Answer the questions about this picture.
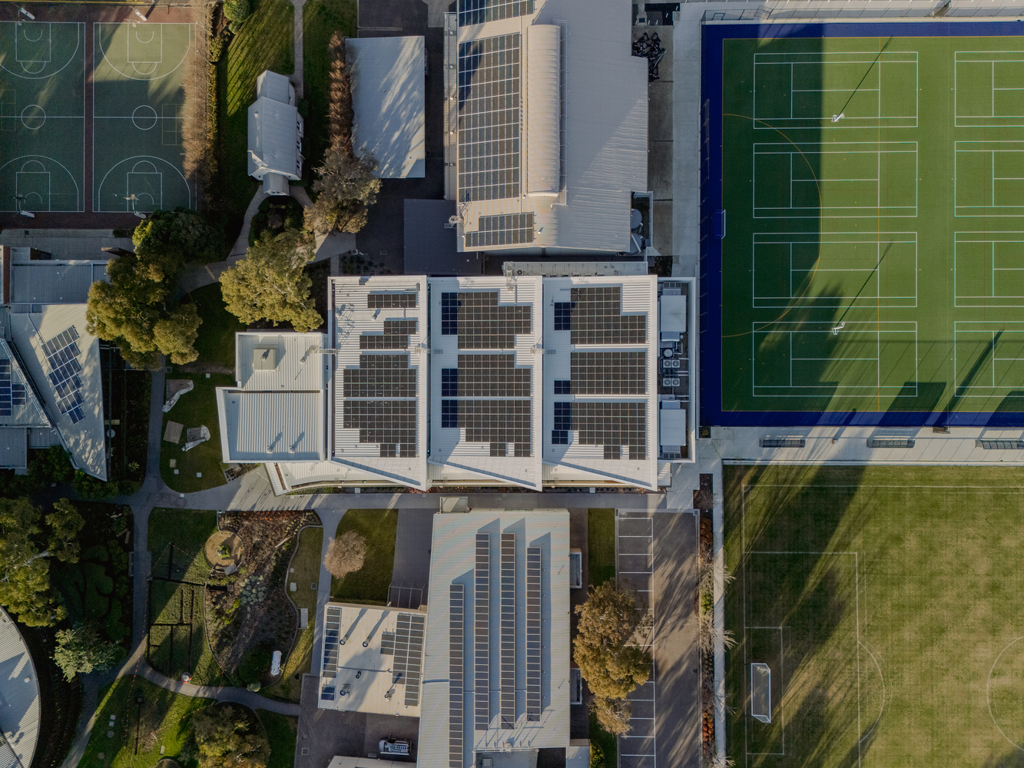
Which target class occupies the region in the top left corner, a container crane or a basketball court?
basketball court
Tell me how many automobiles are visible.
one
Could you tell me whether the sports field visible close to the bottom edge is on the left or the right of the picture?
right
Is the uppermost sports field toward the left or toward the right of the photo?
right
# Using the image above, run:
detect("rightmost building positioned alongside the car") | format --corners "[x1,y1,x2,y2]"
[415,494,590,768]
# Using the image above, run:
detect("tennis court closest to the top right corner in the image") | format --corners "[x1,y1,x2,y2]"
[951,52,1024,128]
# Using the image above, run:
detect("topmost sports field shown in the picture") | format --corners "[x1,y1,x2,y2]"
[702,20,1024,426]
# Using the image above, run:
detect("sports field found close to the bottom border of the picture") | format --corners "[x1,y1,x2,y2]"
[726,465,1024,768]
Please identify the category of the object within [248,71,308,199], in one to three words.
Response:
building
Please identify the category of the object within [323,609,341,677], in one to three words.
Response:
solar array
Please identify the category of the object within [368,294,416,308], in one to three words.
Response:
solar array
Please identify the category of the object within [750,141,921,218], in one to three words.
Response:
tennis court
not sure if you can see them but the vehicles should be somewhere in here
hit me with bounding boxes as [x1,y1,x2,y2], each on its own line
[378,732,412,757]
